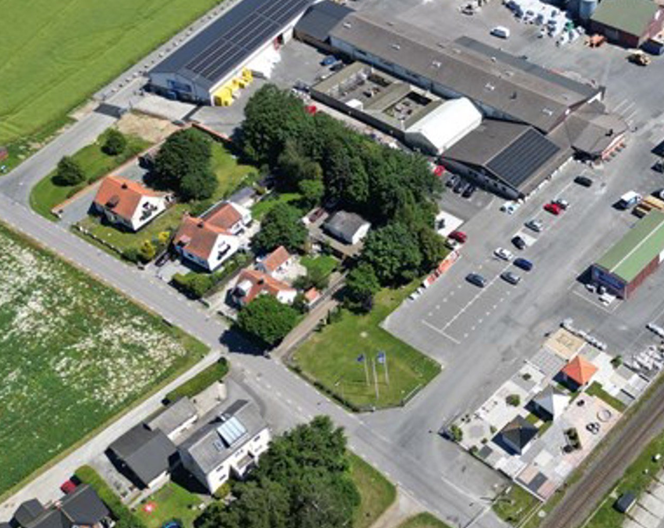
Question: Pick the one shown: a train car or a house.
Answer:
house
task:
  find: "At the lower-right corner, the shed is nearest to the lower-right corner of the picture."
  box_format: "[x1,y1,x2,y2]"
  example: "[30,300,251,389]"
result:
[617,492,635,521]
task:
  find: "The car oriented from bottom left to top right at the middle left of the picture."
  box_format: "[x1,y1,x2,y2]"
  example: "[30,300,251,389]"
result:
[151,250,173,267]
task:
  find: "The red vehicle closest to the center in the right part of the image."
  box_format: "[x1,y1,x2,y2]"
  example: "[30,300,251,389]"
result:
[446,228,468,245]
